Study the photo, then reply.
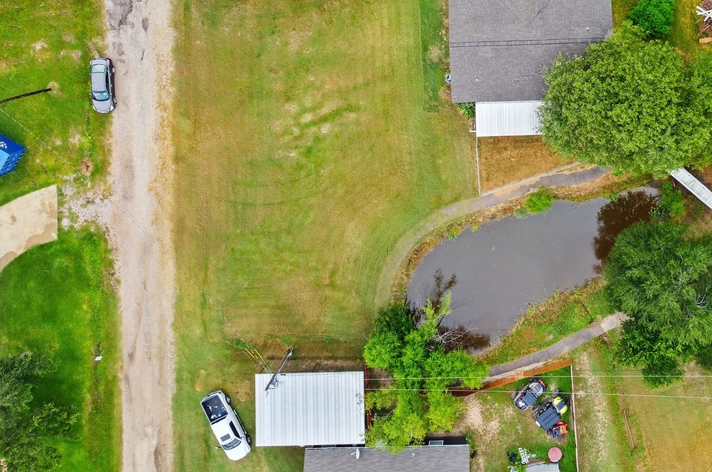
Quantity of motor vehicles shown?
4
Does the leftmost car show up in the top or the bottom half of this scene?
top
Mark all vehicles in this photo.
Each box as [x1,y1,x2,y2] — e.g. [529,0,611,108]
[513,378,546,413]
[199,393,252,463]
[534,394,569,430]
[88,57,118,113]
